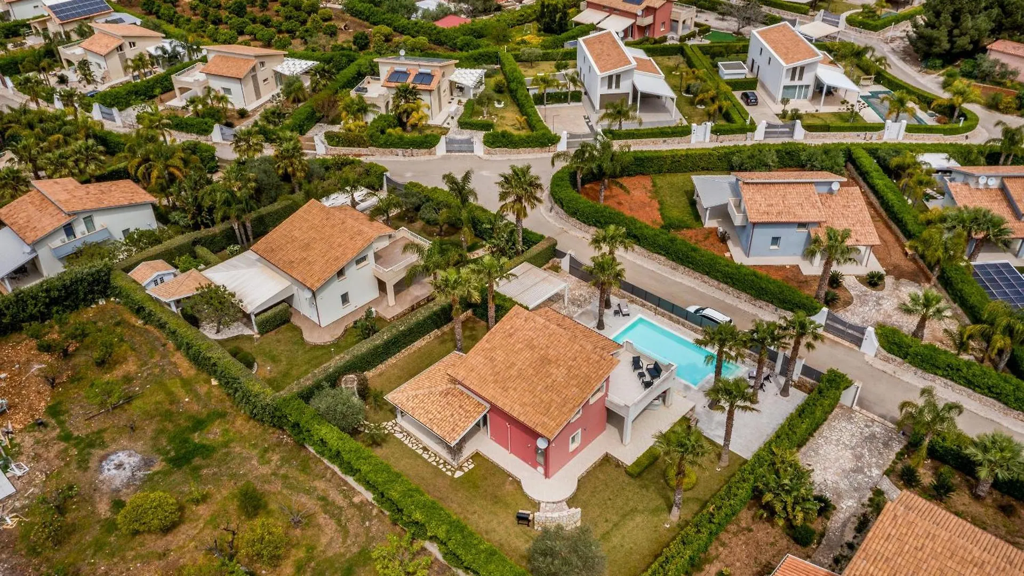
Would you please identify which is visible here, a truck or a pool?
pool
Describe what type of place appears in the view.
residential area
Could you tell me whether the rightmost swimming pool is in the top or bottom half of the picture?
top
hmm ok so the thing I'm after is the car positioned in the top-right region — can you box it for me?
[740,93,761,106]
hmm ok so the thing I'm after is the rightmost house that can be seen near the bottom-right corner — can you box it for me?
[848,486,1024,576]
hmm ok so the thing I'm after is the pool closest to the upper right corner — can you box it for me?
[861,92,927,124]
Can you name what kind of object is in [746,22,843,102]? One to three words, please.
house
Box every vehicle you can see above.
[691,304,745,329]
[78,88,107,99]
[740,93,761,106]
